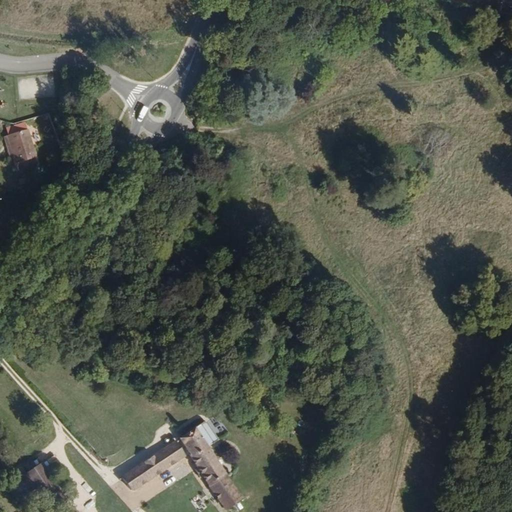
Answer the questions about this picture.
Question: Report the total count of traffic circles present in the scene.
1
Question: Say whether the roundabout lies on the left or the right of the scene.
left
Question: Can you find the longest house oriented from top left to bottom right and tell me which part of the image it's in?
bottom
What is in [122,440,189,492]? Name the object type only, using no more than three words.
barn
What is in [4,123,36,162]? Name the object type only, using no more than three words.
house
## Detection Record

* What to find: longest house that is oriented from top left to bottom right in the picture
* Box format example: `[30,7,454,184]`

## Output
[180,421,245,510]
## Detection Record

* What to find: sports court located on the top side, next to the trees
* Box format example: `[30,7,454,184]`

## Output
[18,76,55,100]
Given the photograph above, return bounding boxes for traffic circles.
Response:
[134,86,184,136]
